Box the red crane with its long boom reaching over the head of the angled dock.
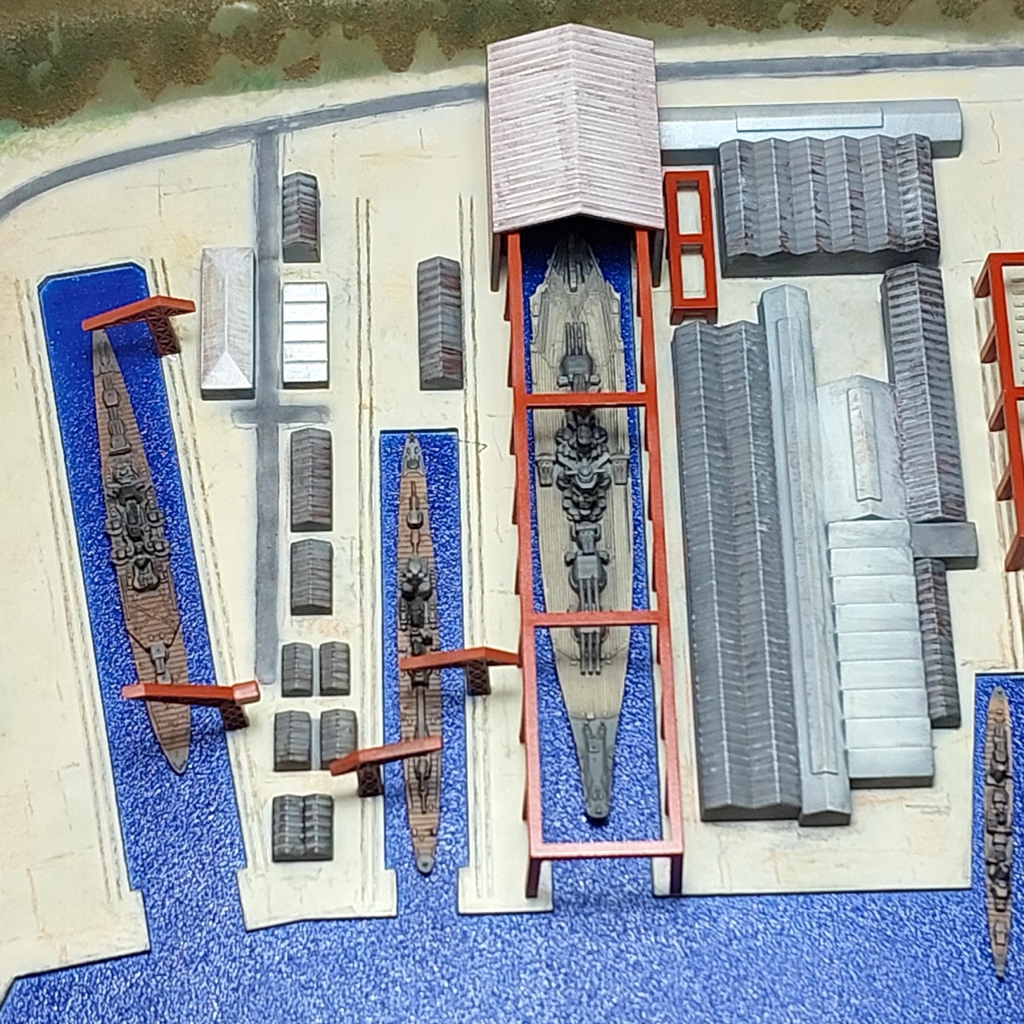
[82,297,196,364]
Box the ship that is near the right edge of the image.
[984,687,1013,977]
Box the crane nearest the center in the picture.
[400,648,520,701]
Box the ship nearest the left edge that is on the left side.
[93,326,191,775]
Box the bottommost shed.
[273,795,333,860]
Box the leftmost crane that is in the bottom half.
[122,683,260,735]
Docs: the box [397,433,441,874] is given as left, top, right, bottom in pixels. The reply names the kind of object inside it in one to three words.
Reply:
vessel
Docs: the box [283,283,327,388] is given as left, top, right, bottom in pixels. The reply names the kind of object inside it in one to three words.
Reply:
shed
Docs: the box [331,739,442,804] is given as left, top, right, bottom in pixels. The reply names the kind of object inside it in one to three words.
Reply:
crane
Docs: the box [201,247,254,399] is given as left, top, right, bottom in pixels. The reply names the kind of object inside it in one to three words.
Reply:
building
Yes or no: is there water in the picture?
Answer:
Yes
